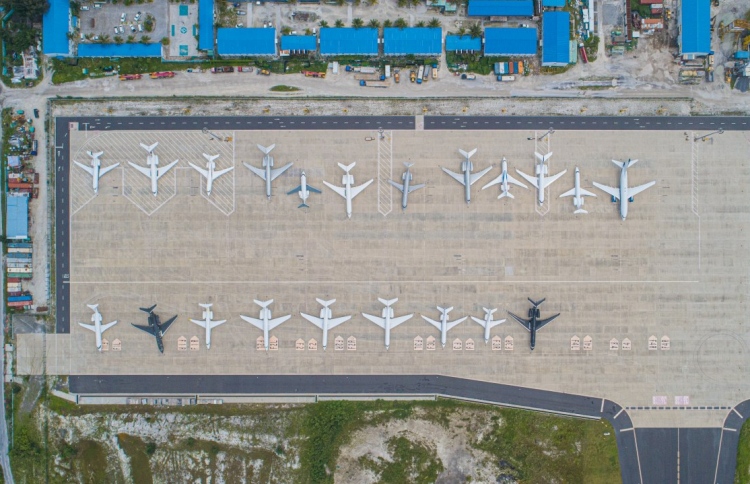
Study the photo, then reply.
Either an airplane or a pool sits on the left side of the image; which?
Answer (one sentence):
You can see an airplane on the left side of the image.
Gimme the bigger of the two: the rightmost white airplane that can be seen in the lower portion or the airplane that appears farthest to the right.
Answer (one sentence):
The airplane that appears farthest to the right takes up more space than the rightmost white airplane that can be seen in the lower portion does.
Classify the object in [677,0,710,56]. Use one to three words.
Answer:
shed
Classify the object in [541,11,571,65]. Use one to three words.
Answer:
shed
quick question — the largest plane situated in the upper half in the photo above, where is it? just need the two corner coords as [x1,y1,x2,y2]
[594,157,660,220]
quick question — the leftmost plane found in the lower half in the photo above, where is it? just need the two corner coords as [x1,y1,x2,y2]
[81,307,119,351]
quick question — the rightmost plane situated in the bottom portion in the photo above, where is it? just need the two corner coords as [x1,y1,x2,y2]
[508,300,561,350]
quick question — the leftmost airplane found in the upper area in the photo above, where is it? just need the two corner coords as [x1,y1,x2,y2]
[73,151,121,193]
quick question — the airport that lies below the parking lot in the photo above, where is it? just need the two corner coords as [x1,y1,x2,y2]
[16,116,750,484]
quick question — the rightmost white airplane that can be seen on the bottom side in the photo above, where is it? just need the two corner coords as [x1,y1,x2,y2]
[471,306,507,343]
